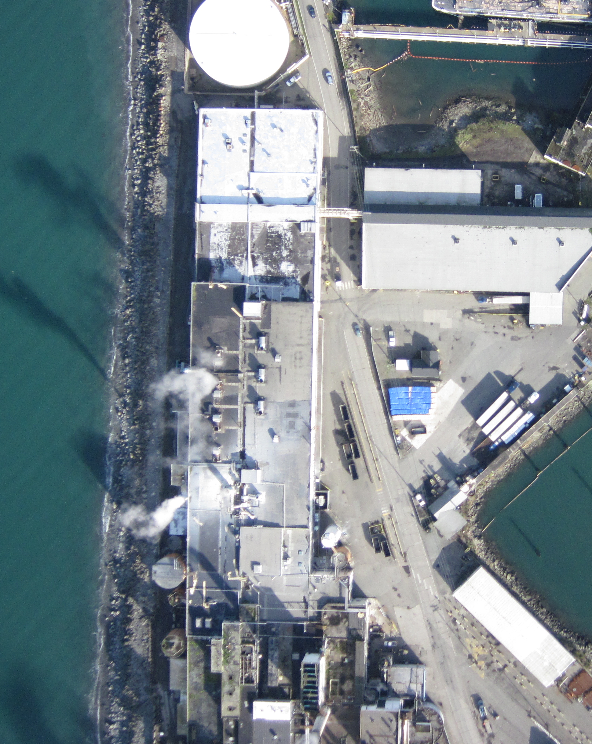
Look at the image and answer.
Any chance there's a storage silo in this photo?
Yes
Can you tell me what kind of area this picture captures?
port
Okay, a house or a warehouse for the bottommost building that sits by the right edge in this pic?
warehouse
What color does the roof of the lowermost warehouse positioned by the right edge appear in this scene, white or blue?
white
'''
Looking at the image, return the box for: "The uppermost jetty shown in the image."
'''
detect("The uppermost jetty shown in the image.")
[333,8,592,50]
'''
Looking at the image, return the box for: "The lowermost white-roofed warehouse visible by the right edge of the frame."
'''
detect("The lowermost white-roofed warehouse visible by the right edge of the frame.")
[454,562,575,687]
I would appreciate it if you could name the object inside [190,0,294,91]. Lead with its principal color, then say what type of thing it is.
white storage tank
